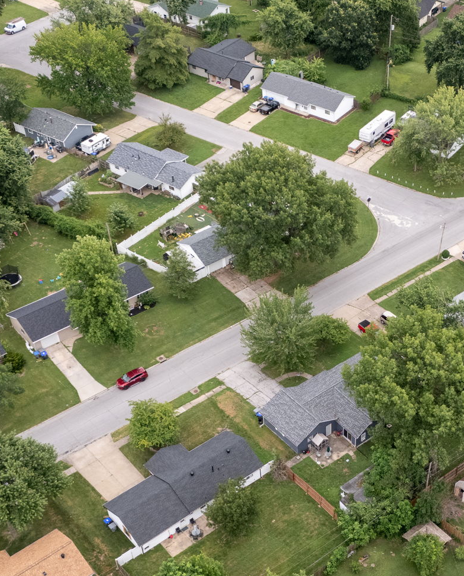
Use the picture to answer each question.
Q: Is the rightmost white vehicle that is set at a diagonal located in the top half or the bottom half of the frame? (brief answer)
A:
top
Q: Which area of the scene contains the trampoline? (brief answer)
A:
left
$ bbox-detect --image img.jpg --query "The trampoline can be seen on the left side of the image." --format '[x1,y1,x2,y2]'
[1,264,24,287]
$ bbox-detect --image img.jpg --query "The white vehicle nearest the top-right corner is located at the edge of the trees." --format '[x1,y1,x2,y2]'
[361,106,397,147]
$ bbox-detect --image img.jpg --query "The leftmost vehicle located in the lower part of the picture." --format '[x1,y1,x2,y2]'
[114,363,150,387]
